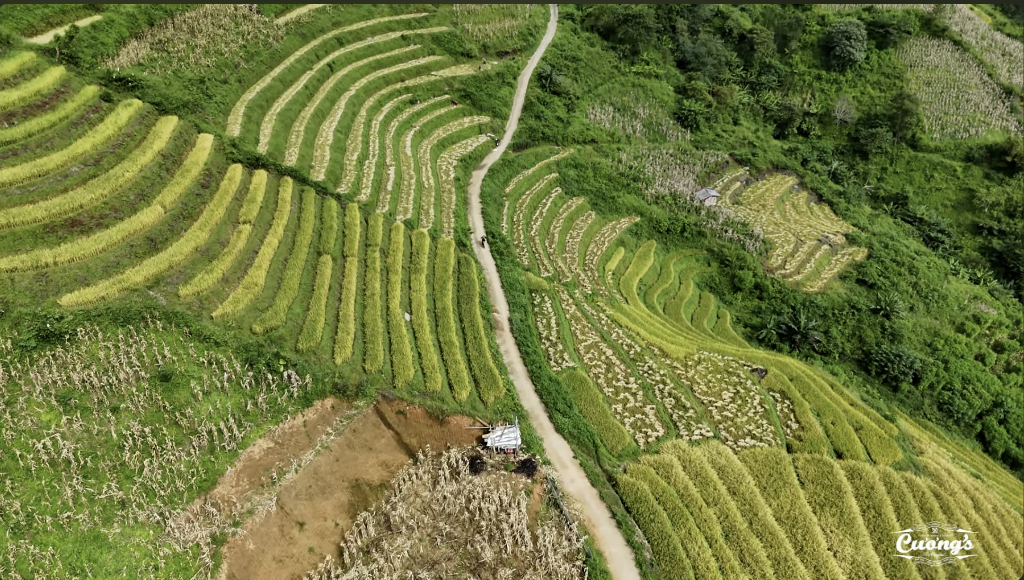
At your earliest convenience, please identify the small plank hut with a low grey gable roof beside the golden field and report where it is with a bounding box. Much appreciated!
[693,187,726,208]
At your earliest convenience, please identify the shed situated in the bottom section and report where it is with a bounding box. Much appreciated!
[461,418,524,465]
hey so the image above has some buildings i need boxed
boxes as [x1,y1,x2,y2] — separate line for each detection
[461,418,524,465]
[693,187,726,208]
